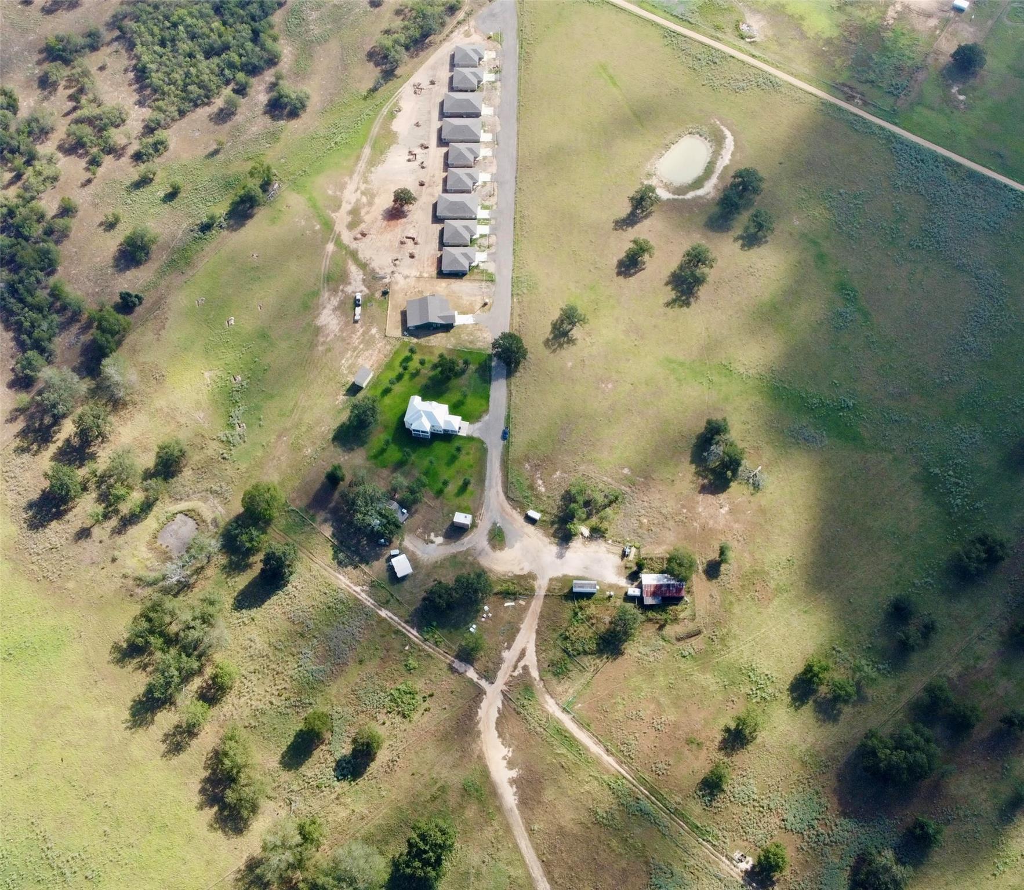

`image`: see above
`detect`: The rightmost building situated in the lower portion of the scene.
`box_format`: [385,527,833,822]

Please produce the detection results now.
[642,574,685,607]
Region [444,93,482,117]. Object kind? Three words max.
house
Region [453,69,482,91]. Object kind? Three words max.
house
